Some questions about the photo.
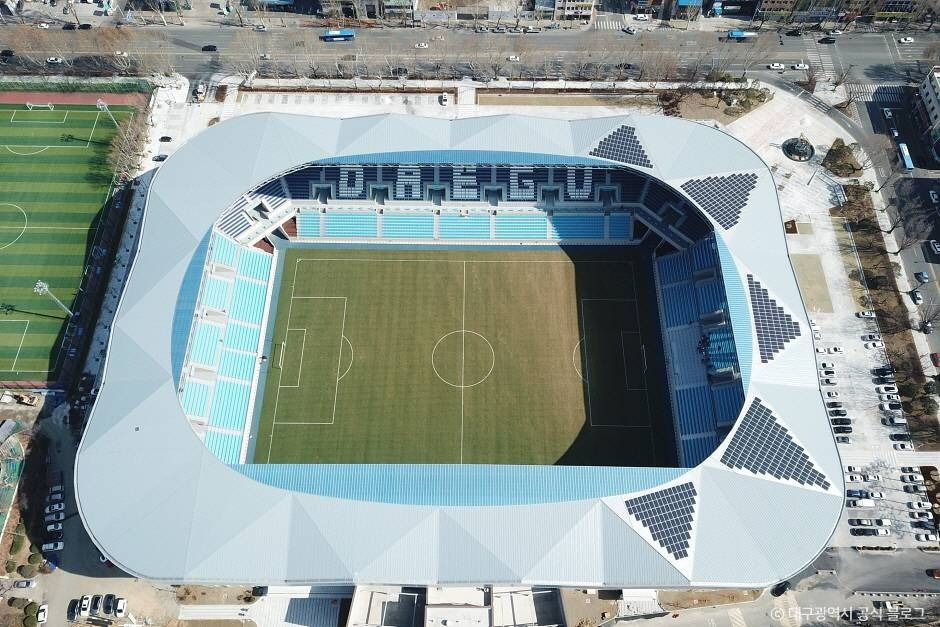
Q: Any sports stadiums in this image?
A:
Yes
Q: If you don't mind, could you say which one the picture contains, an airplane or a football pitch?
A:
football pitch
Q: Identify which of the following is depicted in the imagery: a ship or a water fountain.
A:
water fountain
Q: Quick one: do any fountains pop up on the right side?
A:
Yes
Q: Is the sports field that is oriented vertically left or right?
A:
left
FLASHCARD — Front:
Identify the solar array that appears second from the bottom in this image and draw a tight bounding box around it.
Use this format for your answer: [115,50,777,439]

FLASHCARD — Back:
[725,397,827,494]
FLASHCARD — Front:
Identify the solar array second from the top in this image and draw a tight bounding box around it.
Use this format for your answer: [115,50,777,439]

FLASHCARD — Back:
[684,175,757,226]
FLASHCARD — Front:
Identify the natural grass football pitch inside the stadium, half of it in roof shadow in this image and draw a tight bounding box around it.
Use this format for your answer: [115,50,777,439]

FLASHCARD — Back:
[255,249,669,468]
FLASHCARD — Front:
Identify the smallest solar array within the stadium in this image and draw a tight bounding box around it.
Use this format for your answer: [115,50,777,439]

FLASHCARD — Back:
[592,127,654,161]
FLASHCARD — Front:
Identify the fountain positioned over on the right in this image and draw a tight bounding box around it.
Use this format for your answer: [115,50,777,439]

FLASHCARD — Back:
[780,136,816,163]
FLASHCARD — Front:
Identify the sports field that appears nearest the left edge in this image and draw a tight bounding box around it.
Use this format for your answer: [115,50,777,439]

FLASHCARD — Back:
[0,95,146,386]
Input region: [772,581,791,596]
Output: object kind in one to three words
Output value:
car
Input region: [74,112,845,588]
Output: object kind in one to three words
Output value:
stadium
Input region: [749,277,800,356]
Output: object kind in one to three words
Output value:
solar array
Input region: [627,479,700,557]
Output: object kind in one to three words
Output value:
solar array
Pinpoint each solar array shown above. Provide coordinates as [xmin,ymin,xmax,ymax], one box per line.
[627,479,700,557]
[592,127,654,161]
[684,175,757,226]
[749,277,800,356]
[725,397,827,494]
